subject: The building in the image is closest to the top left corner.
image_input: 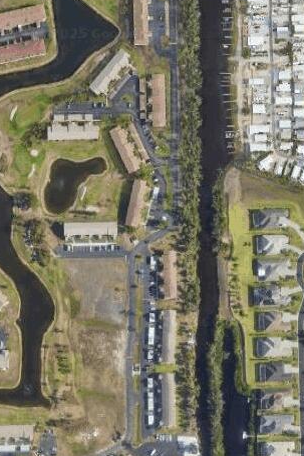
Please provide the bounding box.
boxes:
[0,5,47,31]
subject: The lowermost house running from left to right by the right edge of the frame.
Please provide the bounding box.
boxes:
[259,440,296,456]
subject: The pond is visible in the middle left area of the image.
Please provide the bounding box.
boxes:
[45,157,107,214]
